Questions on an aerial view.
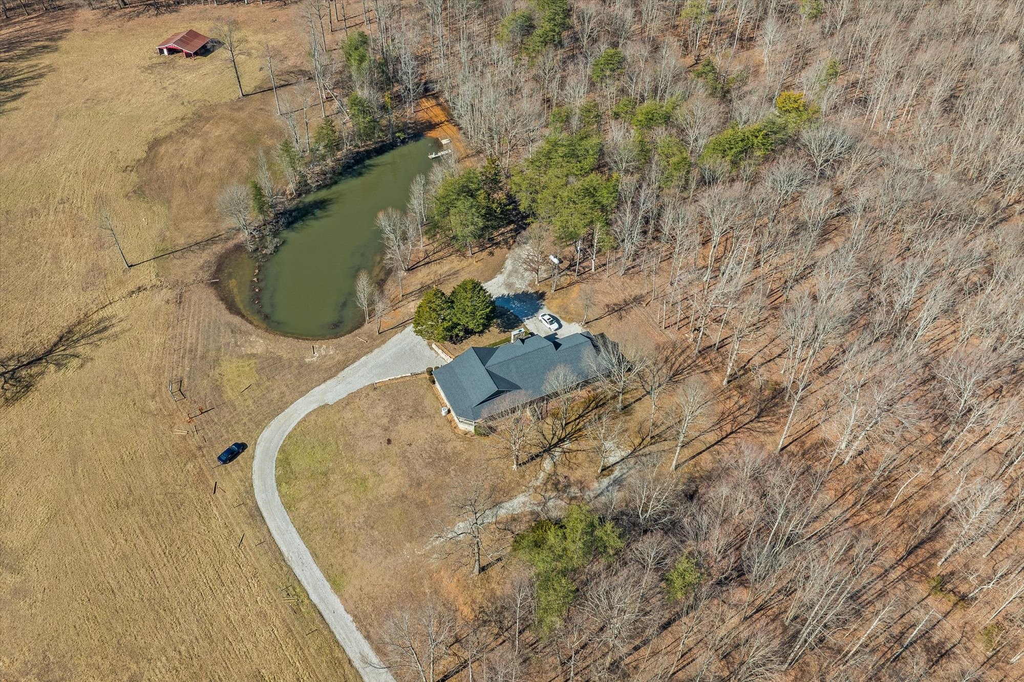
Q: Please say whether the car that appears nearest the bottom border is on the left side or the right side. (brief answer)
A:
left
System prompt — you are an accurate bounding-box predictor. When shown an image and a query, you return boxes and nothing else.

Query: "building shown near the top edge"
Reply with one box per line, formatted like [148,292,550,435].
[154,30,220,60]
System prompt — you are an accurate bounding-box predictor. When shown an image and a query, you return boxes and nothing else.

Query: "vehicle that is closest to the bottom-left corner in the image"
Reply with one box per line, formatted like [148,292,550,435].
[215,442,249,466]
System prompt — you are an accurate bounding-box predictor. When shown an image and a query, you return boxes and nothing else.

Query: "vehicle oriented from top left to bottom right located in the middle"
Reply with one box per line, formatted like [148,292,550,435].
[539,313,561,330]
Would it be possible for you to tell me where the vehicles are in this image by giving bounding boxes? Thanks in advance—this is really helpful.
[539,313,561,330]
[215,442,249,466]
